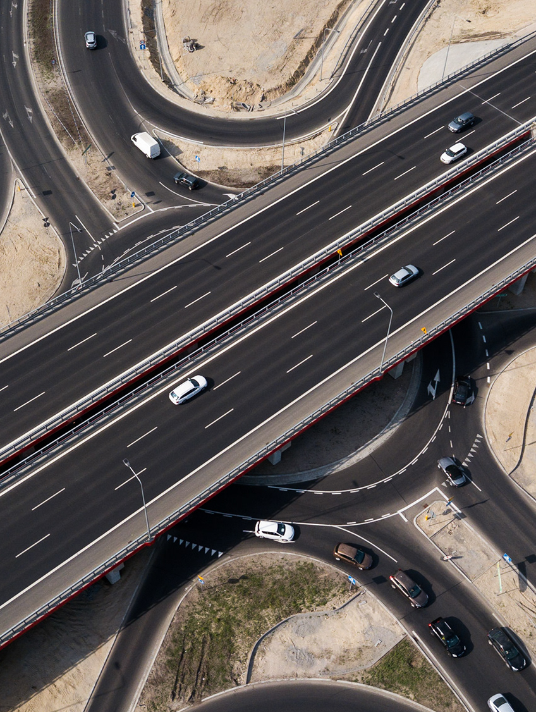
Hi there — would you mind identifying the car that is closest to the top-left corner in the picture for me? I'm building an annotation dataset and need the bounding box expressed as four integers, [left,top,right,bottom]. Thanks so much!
[84,32,97,51]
